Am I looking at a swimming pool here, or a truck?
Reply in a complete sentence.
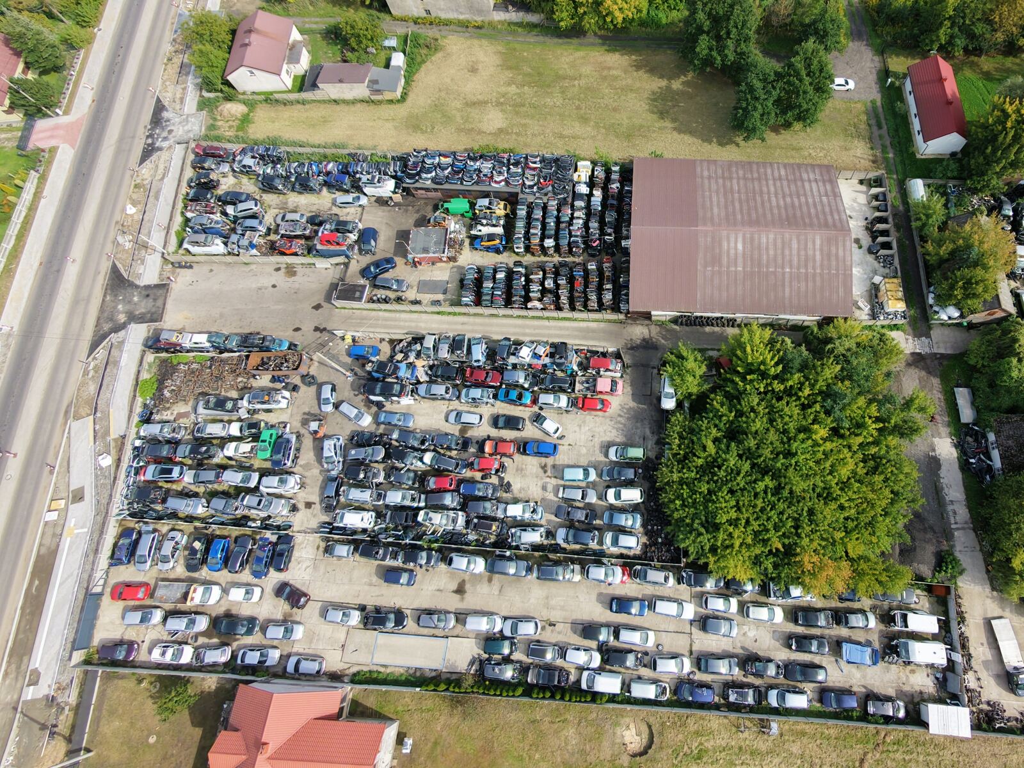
The image shows a truck.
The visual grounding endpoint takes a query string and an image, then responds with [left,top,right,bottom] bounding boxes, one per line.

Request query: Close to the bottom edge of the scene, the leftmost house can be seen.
[197,683,393,768]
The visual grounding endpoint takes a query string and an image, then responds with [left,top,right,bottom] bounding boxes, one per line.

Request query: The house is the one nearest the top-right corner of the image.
[902,54,967,153]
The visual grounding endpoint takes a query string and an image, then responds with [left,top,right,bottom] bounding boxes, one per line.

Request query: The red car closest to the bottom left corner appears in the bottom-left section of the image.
[111,581,155,602]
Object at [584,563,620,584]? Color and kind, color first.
white car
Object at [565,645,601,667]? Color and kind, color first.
white car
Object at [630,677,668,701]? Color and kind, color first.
white vehicle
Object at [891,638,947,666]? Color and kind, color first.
white van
